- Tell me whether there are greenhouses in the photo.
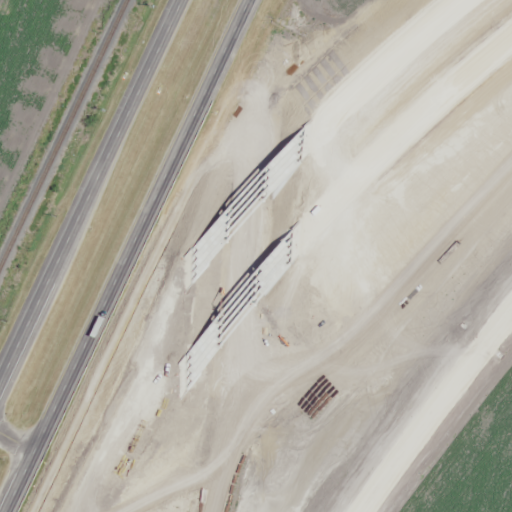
No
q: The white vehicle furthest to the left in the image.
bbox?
[90,308,106,338]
